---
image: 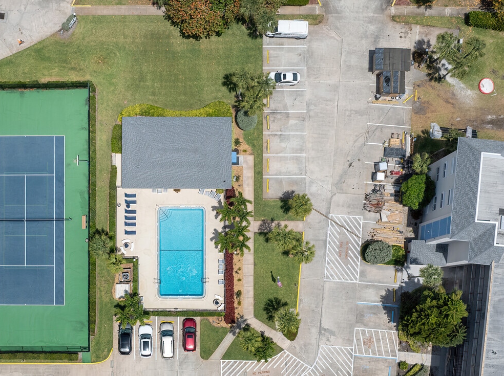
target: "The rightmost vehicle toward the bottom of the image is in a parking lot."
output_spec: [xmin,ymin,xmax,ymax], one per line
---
[181,319,198,352]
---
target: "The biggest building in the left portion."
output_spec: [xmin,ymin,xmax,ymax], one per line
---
[122,116,233,191]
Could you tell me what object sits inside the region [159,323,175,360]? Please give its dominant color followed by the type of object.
white car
